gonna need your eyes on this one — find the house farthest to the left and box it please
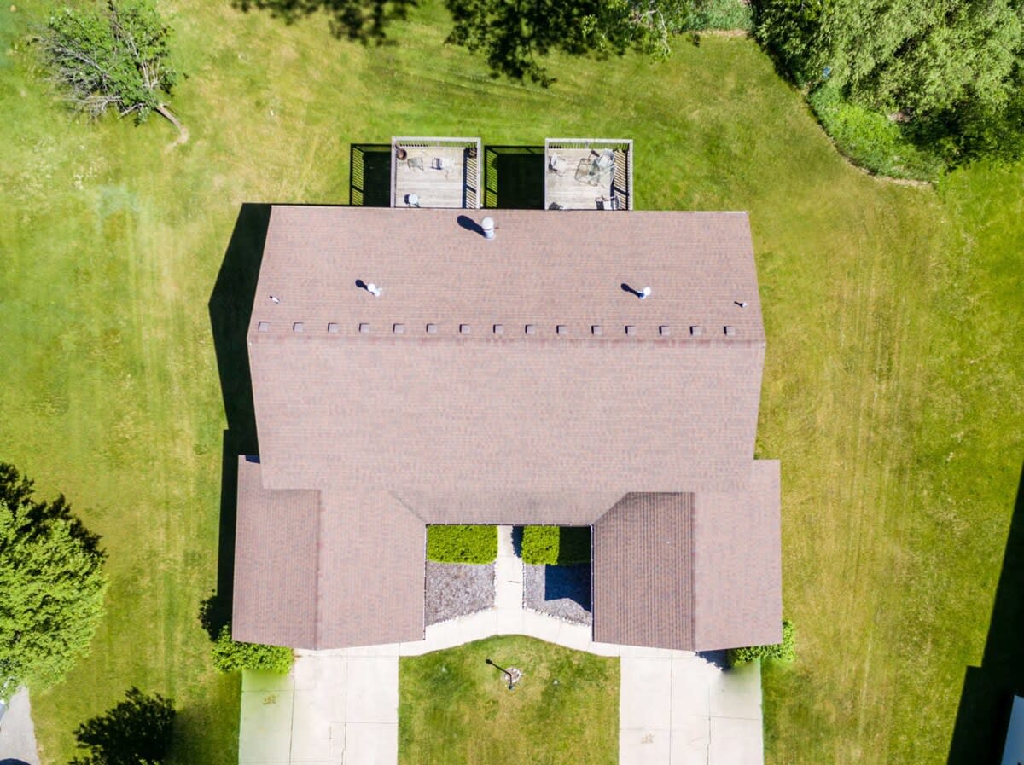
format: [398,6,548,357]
[231,206,784,652]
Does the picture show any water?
No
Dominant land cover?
grass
